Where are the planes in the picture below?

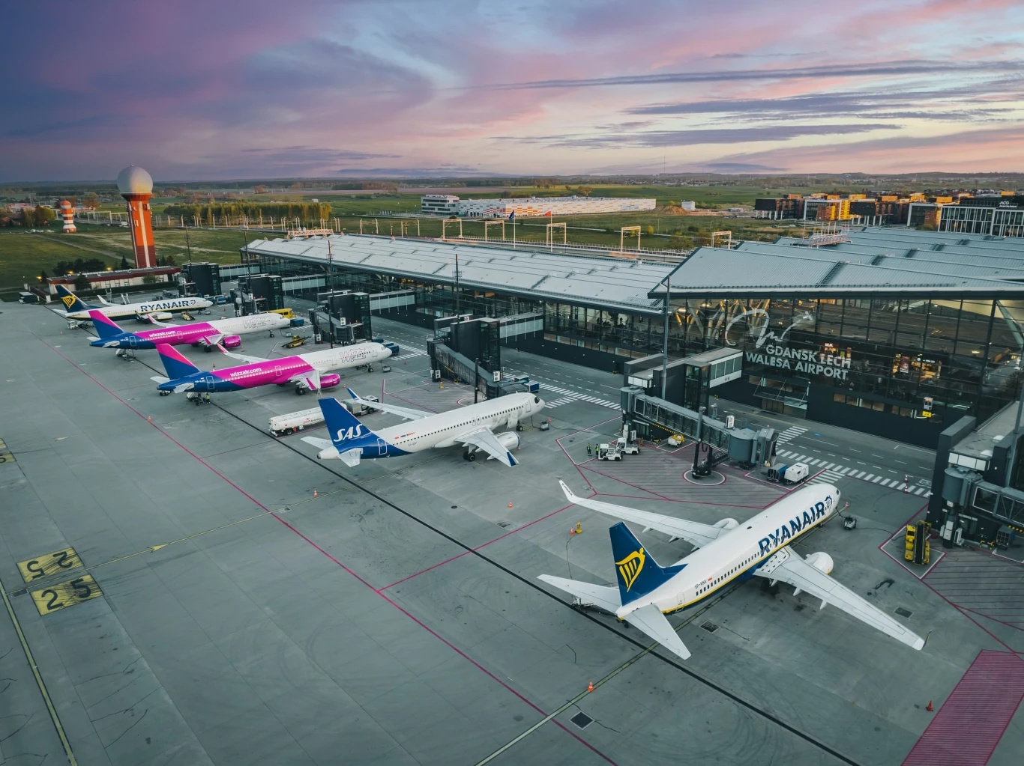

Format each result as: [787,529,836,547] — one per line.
[150,343,391,395]
[49,283,214,325]
[85,309,291,353]
[532,482,938,664]
[301,393,544,470]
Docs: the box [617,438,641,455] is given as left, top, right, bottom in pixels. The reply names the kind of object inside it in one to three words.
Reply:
work vehicle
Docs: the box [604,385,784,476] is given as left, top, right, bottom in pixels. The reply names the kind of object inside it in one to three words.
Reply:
jet bridge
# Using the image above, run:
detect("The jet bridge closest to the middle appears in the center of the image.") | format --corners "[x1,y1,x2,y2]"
[415,340,508,402]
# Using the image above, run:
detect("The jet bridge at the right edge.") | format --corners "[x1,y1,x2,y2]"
[940,467,1024,543]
